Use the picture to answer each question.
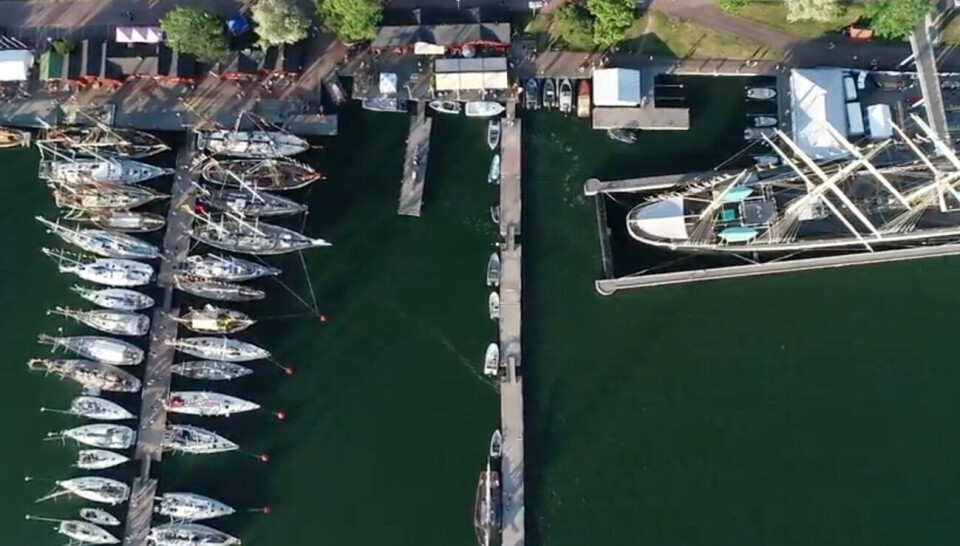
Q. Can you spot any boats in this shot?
Yes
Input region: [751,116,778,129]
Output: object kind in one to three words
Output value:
boat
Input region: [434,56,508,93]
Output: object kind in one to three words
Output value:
tent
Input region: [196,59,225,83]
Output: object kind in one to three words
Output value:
shed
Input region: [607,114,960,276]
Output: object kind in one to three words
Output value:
ship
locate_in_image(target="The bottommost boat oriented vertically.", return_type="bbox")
[475,456,503,546]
